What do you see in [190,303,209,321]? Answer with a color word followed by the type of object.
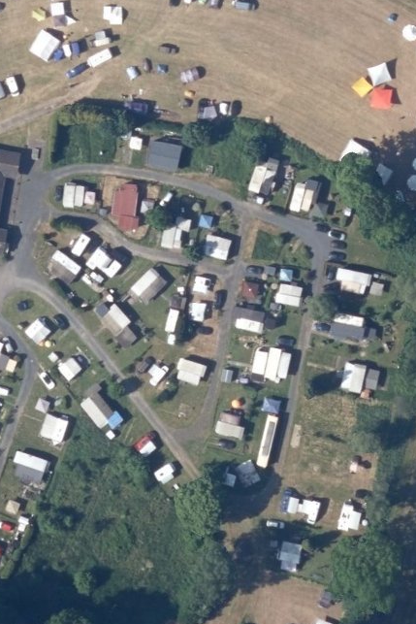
white camper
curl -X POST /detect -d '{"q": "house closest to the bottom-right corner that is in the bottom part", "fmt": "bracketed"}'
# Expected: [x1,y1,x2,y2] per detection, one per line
[281,540,302,572]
